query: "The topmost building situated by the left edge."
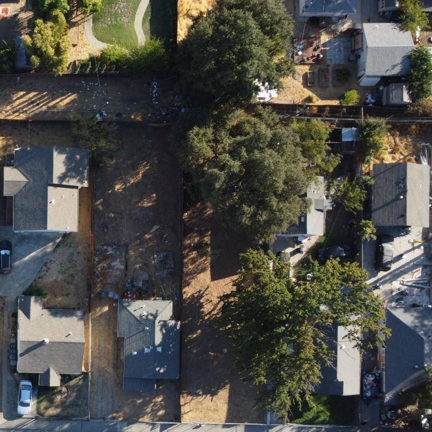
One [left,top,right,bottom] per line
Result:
[2,147,88,233]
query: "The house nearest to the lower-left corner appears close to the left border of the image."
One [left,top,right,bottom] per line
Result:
[17,296,85,386]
